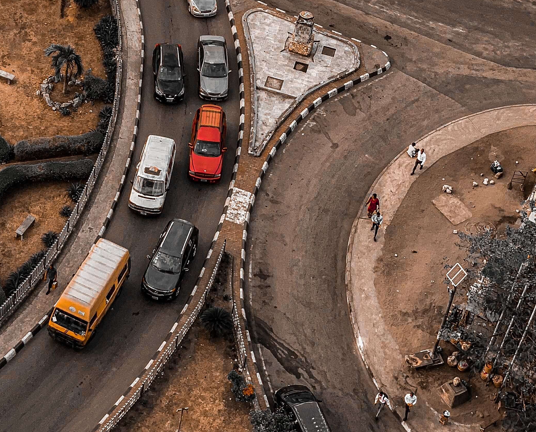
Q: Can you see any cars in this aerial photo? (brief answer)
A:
Yes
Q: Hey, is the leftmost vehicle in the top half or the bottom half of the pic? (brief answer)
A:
bottom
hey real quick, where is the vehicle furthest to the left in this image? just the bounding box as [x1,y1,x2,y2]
[48,234,132,353]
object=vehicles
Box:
[142,214,201,302]
[194,36,234,100]
[128,132,179,218]
[271,381,331,432]
[185,0,217,19]
[48,234,132,353]
[150,38,190,105]
[185,105,230,183]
